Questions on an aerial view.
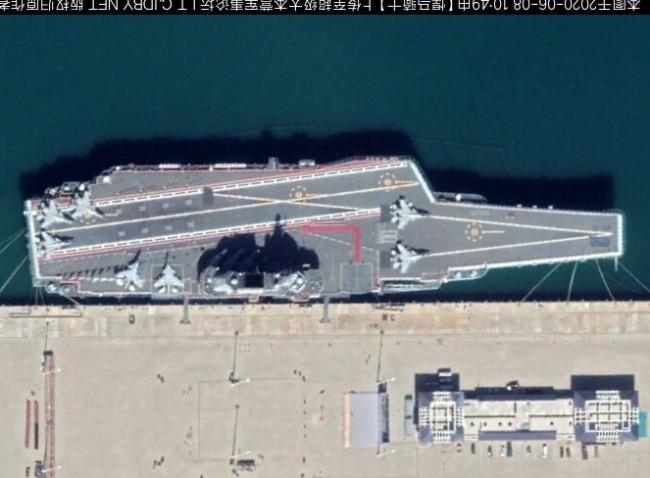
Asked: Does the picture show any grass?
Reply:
No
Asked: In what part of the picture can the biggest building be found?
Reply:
bottom right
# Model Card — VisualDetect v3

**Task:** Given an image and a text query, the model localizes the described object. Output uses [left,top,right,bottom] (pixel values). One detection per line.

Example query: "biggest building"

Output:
[412,373,646,443]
